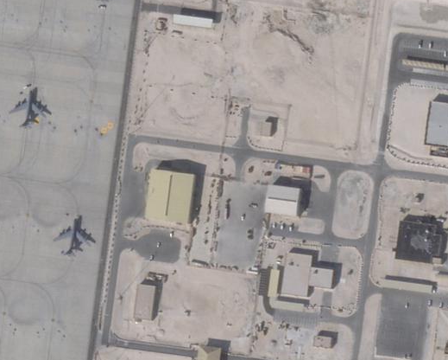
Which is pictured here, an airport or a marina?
airport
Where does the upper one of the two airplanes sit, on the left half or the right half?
left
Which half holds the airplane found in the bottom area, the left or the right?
left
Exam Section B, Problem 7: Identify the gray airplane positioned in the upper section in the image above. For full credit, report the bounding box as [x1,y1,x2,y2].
[10,91,44,126]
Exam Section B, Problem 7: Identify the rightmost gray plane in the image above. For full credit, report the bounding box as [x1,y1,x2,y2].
[53,219,90,255]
